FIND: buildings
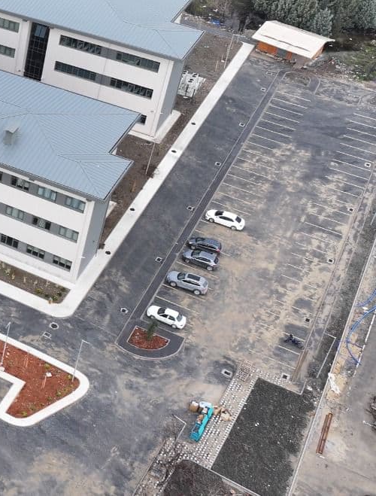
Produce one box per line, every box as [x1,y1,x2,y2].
[0,0,206,282]
[251,22,331,69]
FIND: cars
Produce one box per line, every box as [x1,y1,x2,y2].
[204,210,246,232]
[166,272,209,297]
[180,249,219,272]
[182,234,226,257]
[143,304,189,331]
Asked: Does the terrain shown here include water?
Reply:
No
